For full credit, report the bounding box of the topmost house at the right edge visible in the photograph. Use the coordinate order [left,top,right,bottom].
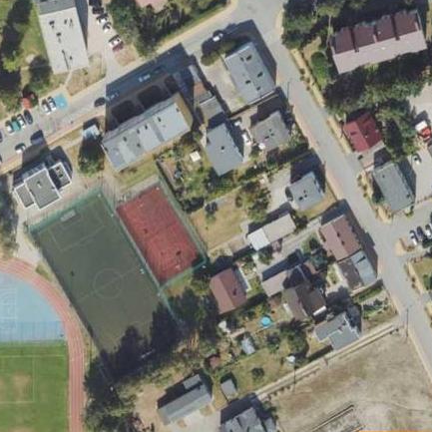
[331,6,427,73]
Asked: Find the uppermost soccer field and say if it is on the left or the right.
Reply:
left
